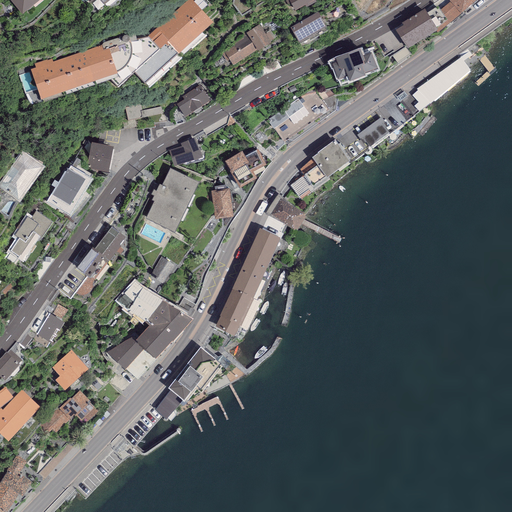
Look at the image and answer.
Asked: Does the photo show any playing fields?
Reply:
No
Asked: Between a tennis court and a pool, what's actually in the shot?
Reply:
pool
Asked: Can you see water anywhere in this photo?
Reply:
Yes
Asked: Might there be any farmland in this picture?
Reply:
No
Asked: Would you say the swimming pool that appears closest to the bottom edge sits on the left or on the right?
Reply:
left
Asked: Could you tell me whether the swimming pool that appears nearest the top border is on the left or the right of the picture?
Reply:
left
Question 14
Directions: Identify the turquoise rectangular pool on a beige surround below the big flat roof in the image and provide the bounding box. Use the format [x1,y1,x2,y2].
[140,222,168,245]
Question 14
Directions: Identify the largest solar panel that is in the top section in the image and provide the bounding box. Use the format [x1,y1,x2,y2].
[296,18,326,40]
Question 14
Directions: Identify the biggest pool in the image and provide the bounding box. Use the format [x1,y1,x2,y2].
[18,69,42,104]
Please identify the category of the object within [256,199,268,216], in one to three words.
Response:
vehicle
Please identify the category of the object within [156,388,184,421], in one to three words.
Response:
house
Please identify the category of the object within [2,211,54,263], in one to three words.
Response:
house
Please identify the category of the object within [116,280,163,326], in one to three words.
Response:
building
